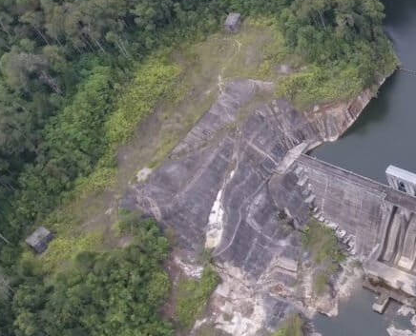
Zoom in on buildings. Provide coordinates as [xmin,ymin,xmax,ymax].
[219,15,242,36]
[384,162,416,194]
[20,230,51,259]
